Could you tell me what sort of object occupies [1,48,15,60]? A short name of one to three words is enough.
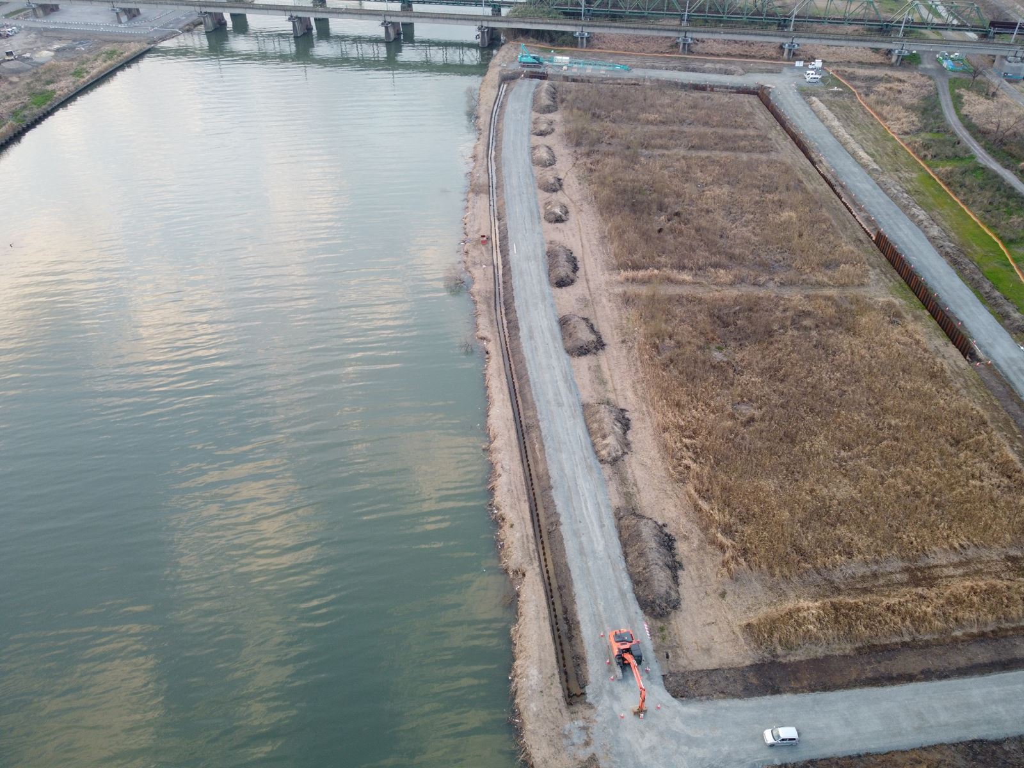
vehicle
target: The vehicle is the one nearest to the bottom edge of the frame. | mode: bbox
[762,725,806,750]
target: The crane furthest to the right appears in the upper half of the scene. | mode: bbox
[520,40,633,70]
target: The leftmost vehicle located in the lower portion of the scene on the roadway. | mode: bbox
[608,624,651,713]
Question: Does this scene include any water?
Yes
